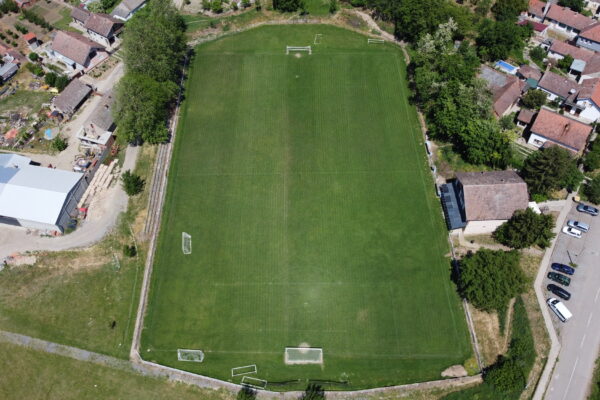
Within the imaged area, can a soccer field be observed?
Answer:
Yes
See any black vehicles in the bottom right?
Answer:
Yes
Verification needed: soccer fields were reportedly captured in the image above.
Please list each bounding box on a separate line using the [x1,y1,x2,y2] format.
[139,23,480,391]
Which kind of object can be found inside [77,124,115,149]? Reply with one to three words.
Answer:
building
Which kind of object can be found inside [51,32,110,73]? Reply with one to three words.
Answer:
house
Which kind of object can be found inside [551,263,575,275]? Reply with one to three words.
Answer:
vehicle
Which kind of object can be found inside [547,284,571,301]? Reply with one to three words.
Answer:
car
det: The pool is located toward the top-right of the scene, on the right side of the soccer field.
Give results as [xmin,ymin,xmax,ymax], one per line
[495,60,520,76]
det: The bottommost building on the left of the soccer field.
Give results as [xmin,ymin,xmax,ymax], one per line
[0,160,91,237]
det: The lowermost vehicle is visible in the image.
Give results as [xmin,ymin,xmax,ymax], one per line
[545,299,575,323]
